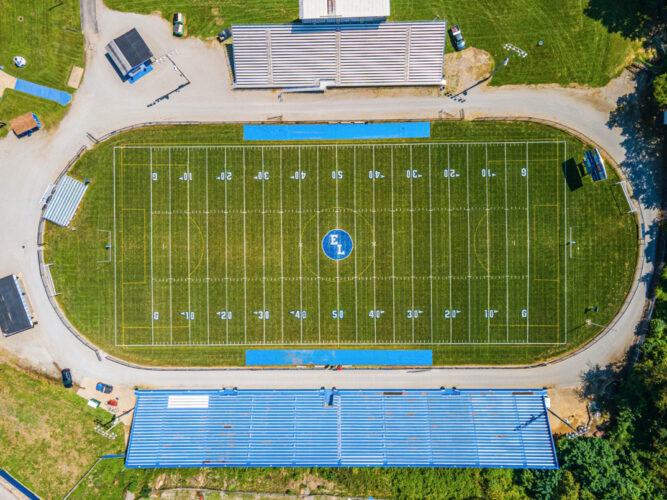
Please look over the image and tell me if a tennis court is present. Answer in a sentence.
No, no tennis court can be seen from above.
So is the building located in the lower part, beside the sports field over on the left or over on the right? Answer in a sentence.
You can find the building located in the lower part, beside the sports field on the left side of the picture.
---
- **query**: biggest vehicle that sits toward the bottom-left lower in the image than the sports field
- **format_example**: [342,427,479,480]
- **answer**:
[60,368,72,388]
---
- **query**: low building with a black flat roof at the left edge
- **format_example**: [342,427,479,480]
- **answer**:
[0,274,38,335]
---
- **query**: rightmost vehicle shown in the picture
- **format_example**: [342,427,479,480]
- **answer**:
[449,25,463,50]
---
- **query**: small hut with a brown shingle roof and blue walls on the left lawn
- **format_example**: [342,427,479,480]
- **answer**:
[10,112,44,137]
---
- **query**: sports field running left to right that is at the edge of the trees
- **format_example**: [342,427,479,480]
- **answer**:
[41,122,641,367]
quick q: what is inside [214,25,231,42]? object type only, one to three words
vehicle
